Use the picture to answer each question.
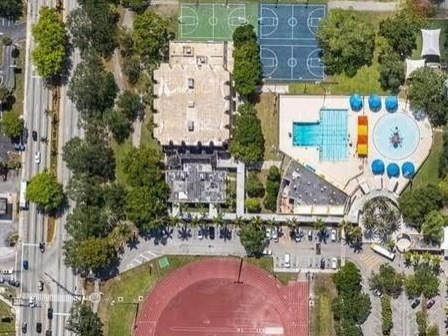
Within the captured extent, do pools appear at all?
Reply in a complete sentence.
Yes, the picture does show a pool.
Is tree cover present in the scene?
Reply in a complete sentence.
Yes, there is tree cover in the image.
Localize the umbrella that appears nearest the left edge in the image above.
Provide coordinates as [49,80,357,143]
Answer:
[350,95,363,109]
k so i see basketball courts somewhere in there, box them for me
[257,2,327,42]
[176,2,257,41]
[258,42,327,82]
